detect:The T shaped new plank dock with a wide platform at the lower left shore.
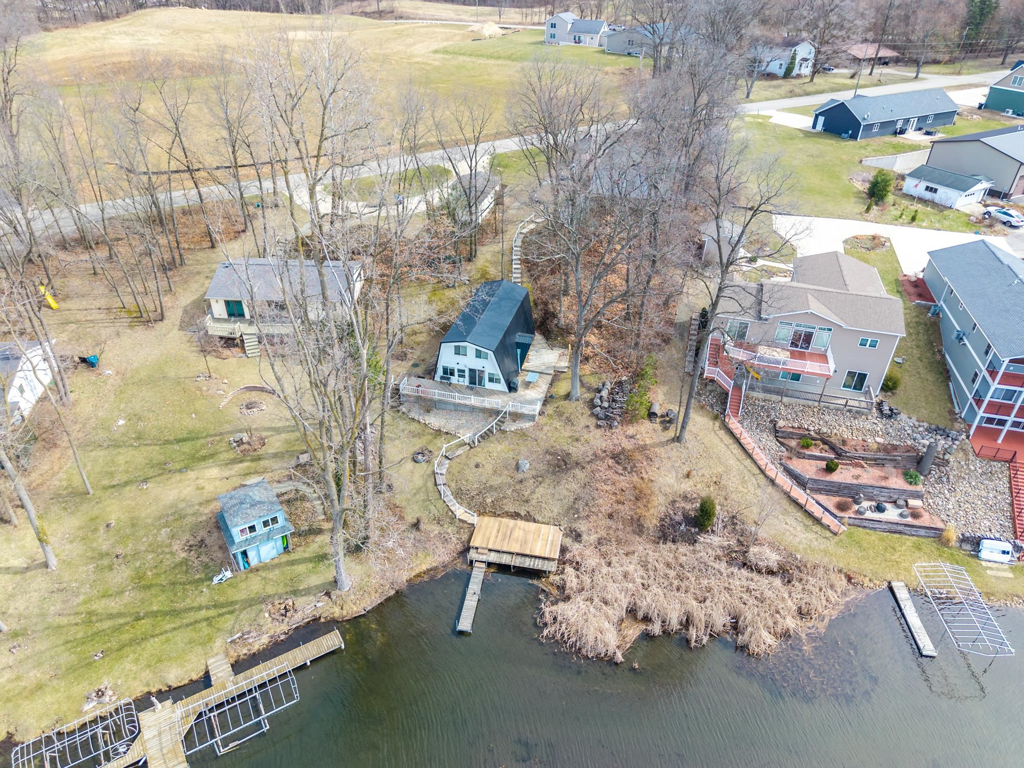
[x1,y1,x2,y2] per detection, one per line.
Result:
[86,625,345,768]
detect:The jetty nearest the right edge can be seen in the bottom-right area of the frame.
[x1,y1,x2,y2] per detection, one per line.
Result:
[887,582,937,656]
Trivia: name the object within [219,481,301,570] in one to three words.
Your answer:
shed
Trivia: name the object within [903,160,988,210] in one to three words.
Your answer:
building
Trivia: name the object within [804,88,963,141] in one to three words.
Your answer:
house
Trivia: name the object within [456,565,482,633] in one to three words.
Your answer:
pier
